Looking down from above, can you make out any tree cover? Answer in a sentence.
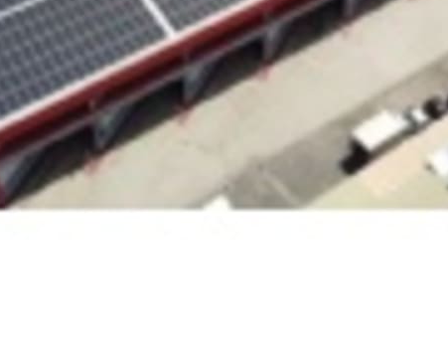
No, no tree cover is visible.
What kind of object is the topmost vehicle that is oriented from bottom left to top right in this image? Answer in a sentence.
What you see as the topmost vehicle that is oriented from bottom left to top right is a truck.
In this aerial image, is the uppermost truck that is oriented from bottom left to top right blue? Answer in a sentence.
No, from above the uppermost truck that is oriented from bottom left to top right looks white.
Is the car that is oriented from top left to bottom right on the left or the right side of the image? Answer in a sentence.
It is on the right.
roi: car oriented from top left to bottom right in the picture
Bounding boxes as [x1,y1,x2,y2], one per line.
[420,91,448,120]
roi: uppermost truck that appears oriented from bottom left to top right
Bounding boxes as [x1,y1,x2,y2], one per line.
[354,104,418,155]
